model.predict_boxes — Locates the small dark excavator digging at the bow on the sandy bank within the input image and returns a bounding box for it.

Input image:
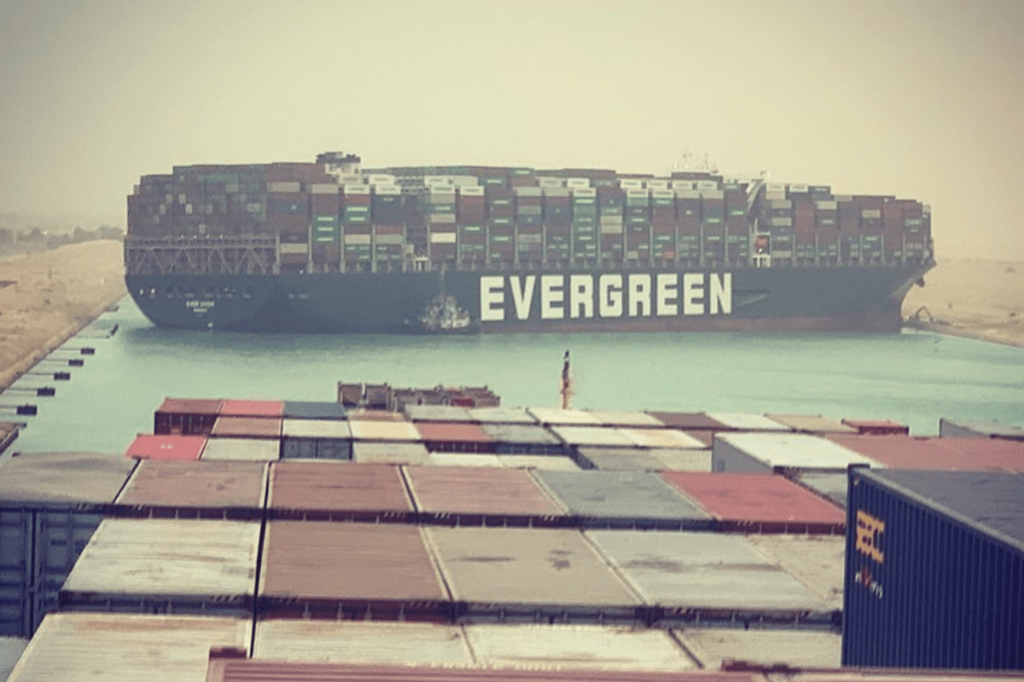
[909,304,937,321]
